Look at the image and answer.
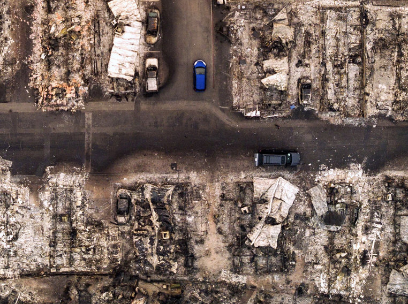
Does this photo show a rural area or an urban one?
urban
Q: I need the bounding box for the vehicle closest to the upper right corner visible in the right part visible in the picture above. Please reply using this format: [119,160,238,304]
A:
[297,81,312,105]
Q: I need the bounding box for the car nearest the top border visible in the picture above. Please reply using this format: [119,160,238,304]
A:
[145,9,160,44]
